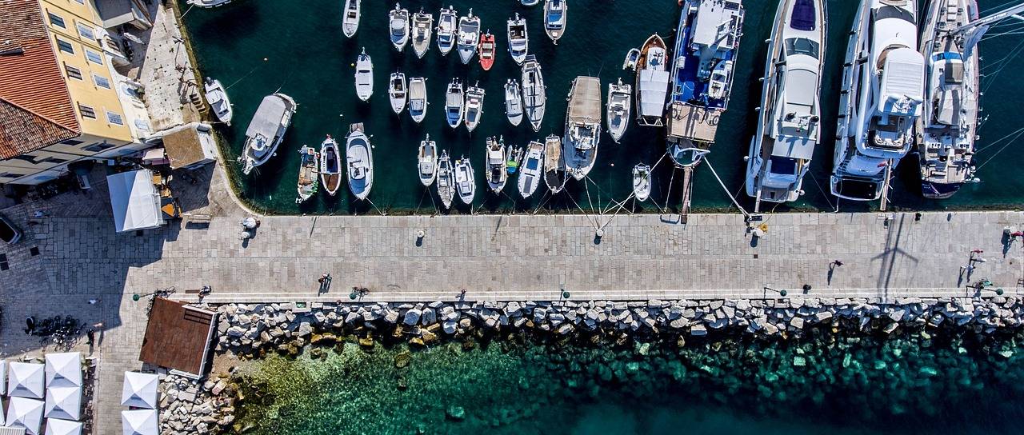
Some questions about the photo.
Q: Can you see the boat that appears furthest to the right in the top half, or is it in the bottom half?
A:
top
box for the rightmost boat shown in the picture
[914,0,1024,199]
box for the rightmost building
[146,123,229,172]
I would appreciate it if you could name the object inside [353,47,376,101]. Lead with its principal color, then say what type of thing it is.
white boat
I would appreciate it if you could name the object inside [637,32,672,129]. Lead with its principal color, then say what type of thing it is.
white boat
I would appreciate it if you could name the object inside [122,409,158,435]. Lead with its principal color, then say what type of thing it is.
white umbrella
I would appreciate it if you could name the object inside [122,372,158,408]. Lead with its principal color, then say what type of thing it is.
white umbrella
